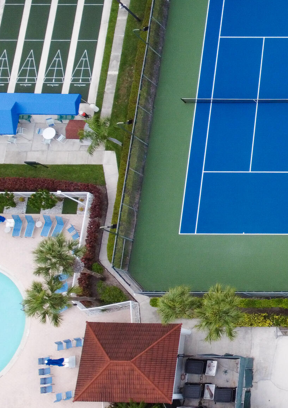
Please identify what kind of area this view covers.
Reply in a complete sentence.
This image shows a sports ground.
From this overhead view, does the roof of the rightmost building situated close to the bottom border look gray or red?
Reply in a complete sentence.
From above, the roof of the rightmost building situated close to the bottom border appears red.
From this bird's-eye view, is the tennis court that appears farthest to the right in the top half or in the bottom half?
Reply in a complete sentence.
The top half of the photo is where the tennis court that appears farthest to the right is.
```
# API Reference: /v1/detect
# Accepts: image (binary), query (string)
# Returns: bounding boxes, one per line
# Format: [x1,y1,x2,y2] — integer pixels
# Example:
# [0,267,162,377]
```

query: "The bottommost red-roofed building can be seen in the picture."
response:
[72,321,194,404]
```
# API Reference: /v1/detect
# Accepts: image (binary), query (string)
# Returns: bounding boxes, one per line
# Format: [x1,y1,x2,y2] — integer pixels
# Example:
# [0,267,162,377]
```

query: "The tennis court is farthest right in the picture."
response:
[180,0,288,234]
